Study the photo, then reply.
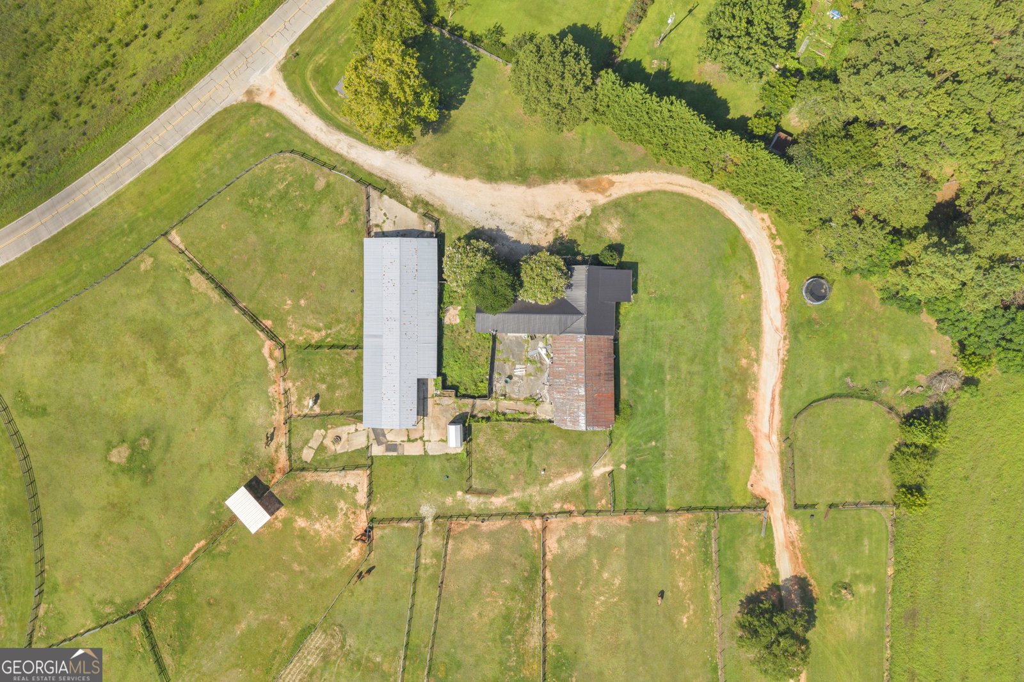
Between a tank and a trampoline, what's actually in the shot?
trampoline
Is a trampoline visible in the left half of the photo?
No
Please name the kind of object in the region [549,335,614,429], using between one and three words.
barn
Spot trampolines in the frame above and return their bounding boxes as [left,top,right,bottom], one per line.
[802,278,832,304]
